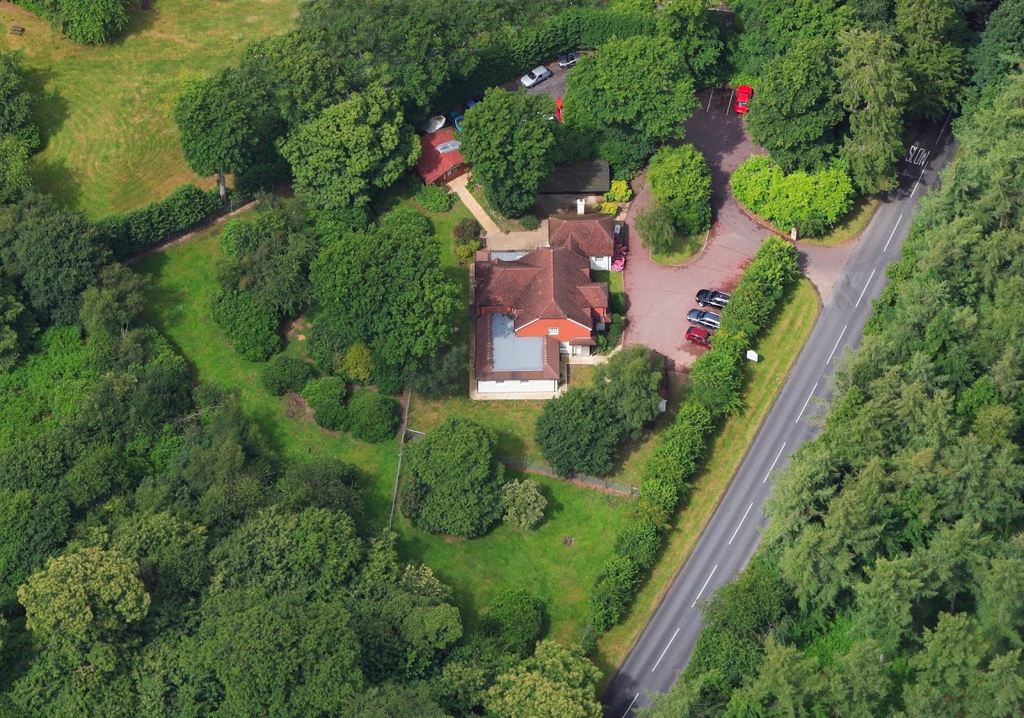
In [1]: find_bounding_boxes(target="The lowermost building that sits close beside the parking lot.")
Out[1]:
[476,194,614,393]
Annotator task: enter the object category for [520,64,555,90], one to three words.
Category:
vehicle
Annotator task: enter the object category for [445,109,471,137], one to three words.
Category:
car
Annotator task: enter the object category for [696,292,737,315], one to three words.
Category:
car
